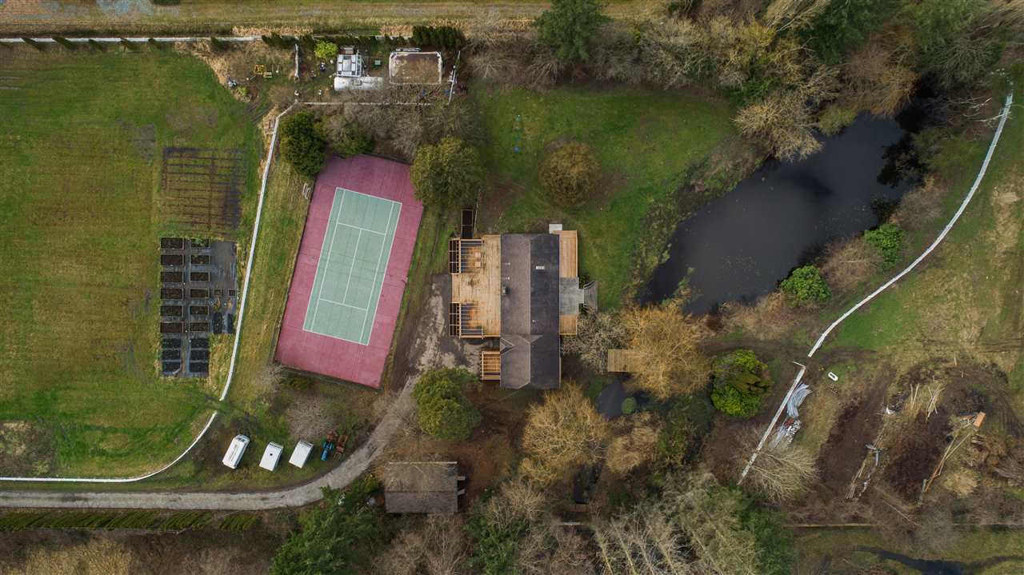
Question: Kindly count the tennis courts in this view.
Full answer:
The count comes to 1 tennis court.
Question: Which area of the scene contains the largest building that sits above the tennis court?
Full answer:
The largest building that sits above the tennis court is located in the top region of the scene.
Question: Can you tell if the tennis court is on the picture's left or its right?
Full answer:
The tennis court sits on the left side.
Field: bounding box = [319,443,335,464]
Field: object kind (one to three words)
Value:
work vehicle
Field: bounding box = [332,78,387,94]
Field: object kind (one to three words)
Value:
trailer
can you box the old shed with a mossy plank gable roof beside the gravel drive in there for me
[384,461,466,513]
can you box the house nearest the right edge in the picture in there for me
[500,234,561,389]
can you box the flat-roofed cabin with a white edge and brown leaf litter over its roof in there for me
[390,52,442,89]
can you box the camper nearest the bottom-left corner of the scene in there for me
[226,428,253,468]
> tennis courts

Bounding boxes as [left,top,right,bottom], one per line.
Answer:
[275,147,425,389]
